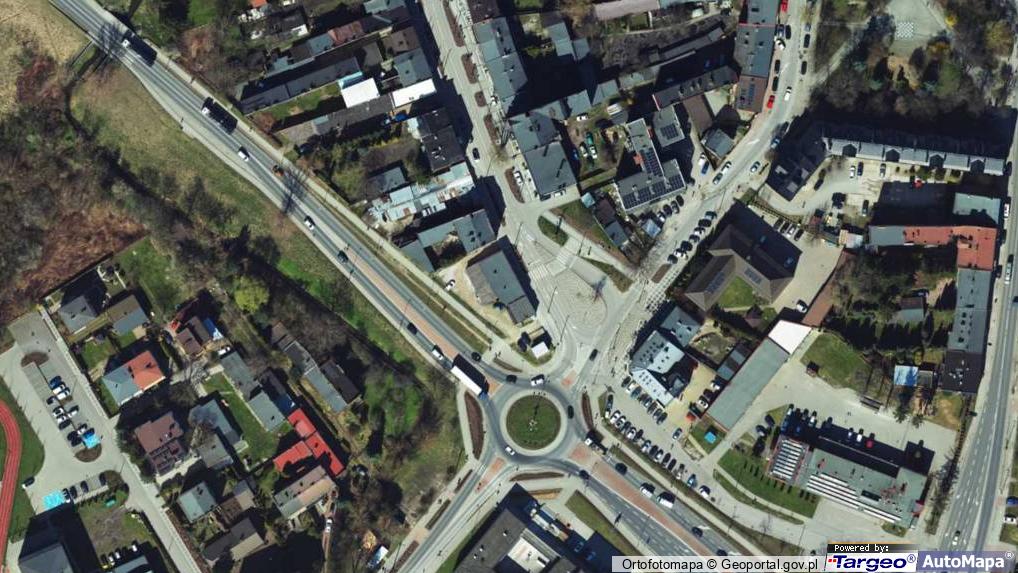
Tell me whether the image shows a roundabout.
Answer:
Yes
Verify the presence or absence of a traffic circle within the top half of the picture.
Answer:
No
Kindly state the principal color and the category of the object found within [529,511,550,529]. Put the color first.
white vehicle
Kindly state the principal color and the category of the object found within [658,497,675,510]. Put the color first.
white vehicle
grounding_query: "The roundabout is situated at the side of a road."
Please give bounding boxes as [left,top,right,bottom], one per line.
[484,373,584,473]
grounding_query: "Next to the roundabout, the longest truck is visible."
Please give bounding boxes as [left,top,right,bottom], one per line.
[450,368,487,400]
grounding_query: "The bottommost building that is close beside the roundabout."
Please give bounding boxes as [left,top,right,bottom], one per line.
[443,507,579,573]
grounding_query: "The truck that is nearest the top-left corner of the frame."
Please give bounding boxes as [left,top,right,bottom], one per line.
[124,41,152,65]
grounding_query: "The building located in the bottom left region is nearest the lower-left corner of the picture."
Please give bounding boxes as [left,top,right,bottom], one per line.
[19,541,86,573]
